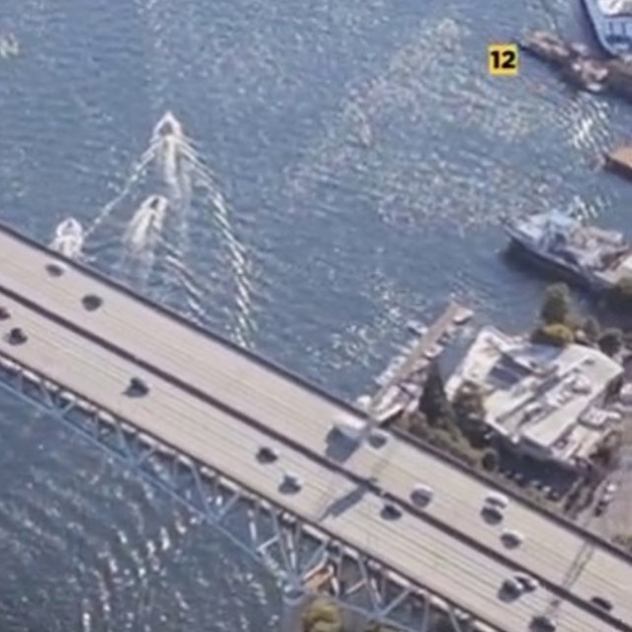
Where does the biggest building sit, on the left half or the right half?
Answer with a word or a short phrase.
right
